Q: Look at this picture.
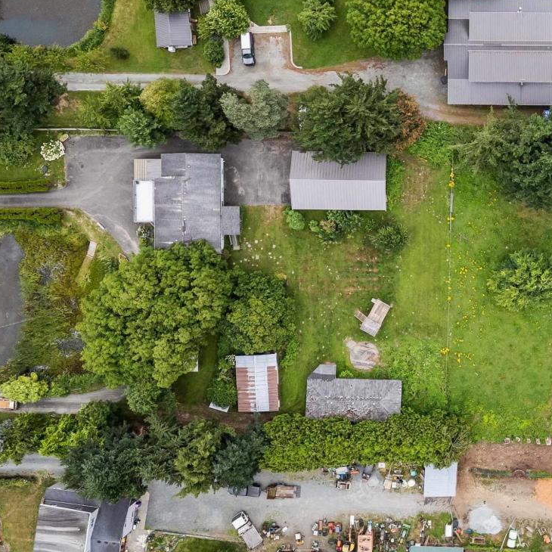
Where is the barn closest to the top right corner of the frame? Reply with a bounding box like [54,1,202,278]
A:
[444,0,552,104]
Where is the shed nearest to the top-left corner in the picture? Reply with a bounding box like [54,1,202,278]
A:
[155,9,196,48]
